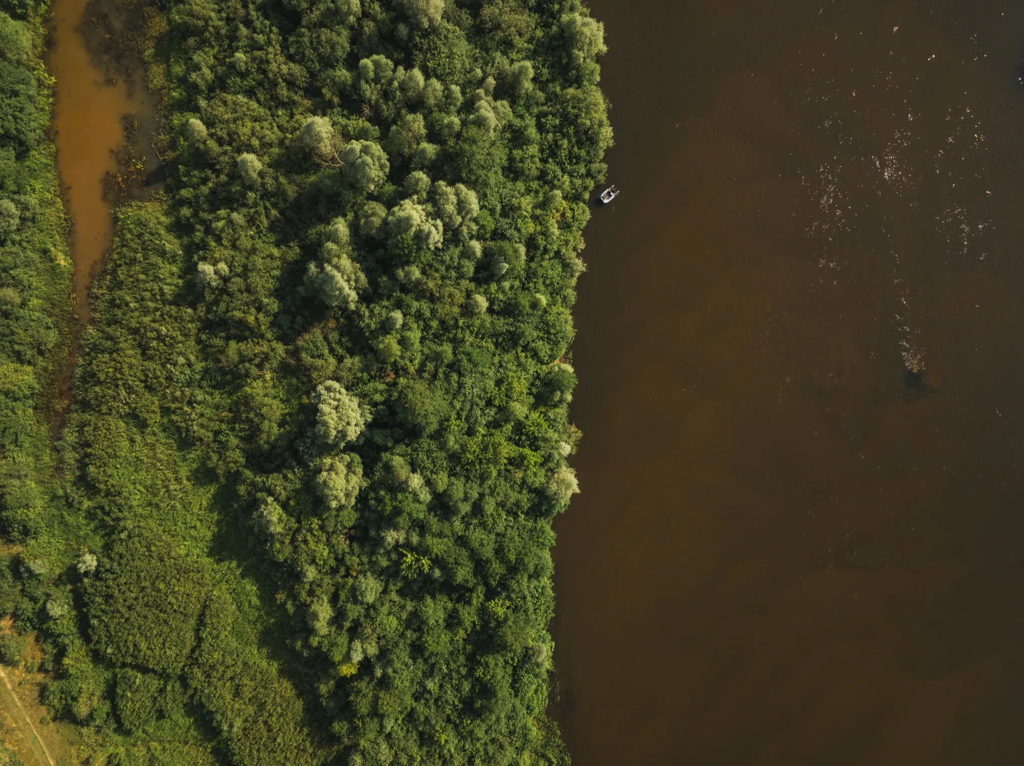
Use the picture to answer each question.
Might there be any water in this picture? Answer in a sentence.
Yes, some water is visible.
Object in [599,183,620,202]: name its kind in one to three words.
boat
